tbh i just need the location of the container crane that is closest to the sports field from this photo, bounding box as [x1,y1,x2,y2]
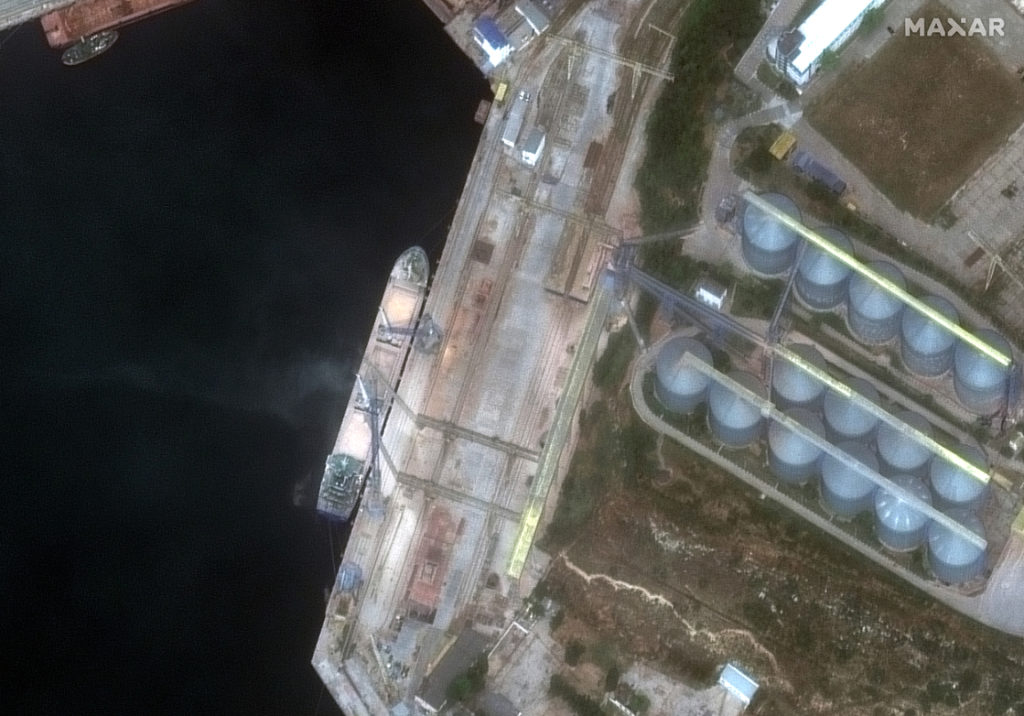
[966,230,1024,293]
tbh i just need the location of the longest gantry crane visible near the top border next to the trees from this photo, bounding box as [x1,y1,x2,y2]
[545,32,676,91]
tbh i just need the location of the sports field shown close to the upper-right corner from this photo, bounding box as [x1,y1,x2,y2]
[804,0,1024,220]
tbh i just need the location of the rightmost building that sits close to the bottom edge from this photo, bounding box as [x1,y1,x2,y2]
[720,663,758,702]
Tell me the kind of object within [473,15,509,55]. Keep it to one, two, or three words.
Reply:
building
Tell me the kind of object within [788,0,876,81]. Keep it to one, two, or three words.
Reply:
building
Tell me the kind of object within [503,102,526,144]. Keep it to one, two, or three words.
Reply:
shed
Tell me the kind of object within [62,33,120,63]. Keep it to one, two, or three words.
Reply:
boat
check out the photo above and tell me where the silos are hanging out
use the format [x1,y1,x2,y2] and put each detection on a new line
[948,331,1012,411]
[819,379,881,450]
[705,372,766,450]
[922,509,986,586]
[651,339,714,417]
[791,229,854,310]
[763,409,826,487]
[769,345,828,416]
[737,194,800,275]
[869,476,933,553]
[873,413,935,483]
[843,263,907,344]
[926,446,988,516]
[816,442,879,520]
[896,297,960,378]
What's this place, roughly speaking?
port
